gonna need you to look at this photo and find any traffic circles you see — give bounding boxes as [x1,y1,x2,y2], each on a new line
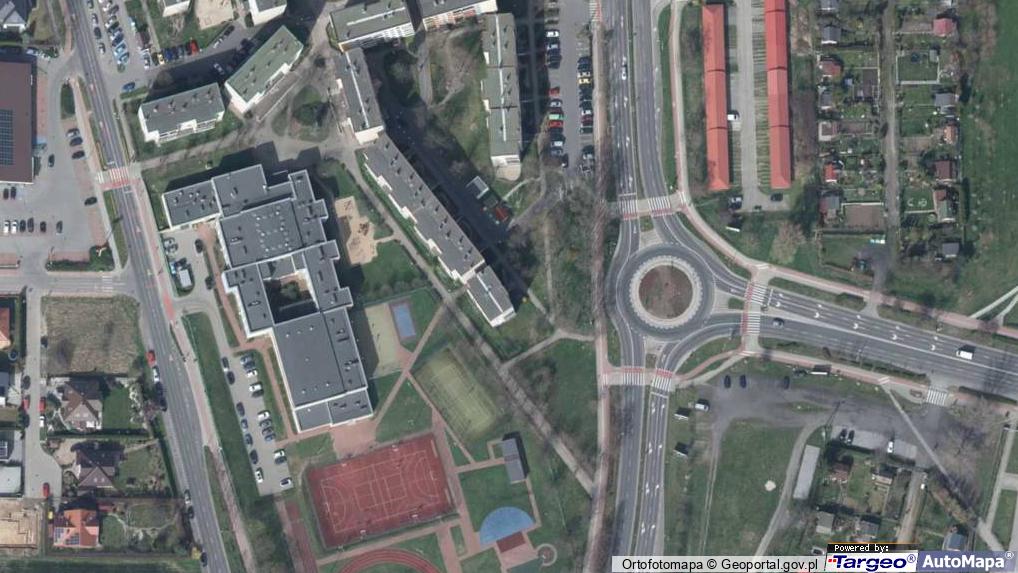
[605,218,748,376]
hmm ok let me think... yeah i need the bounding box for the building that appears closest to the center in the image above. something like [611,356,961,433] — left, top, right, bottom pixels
[462,266,514,329]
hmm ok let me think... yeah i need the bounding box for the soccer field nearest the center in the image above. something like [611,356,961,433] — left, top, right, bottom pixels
[413,348,503,444]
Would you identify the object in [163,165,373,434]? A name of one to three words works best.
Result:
building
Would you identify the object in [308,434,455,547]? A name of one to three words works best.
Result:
sports court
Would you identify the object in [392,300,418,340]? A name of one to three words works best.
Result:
basketball court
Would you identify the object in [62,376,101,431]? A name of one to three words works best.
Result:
house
